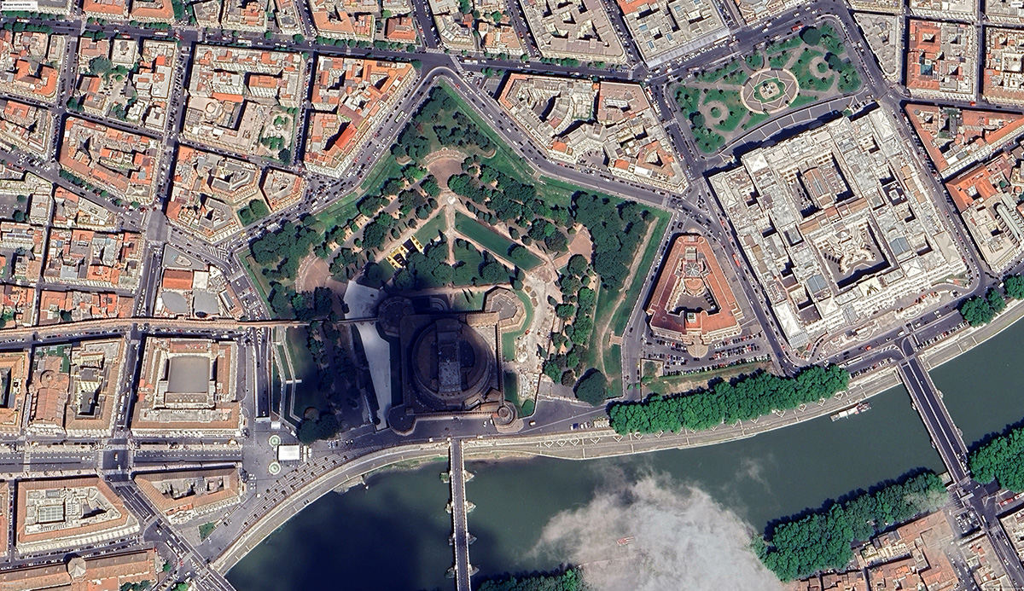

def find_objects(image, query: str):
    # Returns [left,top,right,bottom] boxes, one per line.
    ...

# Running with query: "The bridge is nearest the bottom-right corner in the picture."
[895,357,972,487]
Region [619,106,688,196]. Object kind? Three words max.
building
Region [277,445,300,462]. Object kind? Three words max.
tent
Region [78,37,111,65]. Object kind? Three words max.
building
